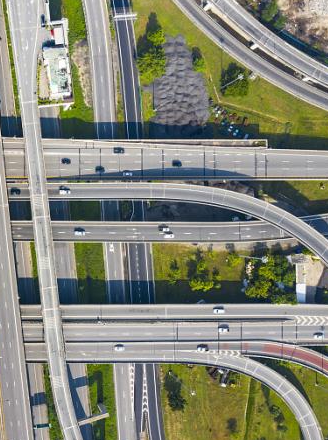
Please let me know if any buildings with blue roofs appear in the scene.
No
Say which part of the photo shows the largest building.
top left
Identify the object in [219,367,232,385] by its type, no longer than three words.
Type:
vehicle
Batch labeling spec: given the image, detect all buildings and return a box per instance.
[38,20,74,109]
[292,262,306,303]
